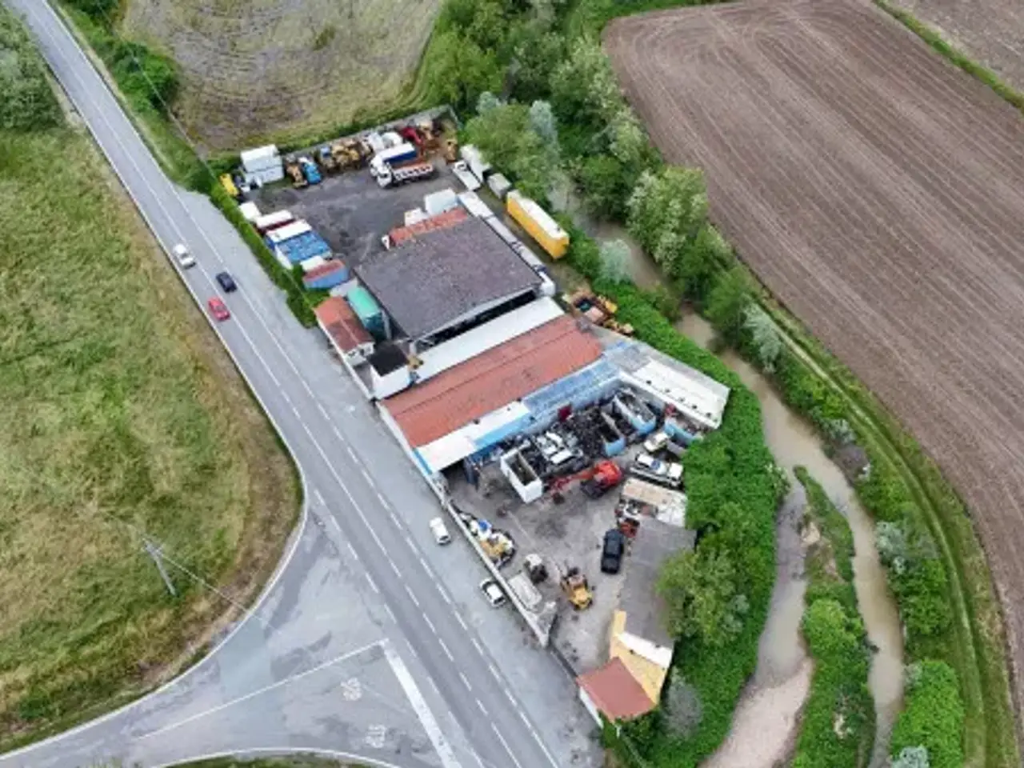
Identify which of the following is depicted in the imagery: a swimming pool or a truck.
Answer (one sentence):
Visible in the photo is a truck.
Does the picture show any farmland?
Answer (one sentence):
Yes, the picture does contain farmland.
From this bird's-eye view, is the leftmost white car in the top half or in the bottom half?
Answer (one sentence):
Seen from above, the leftmost white car lies in the top half of the view.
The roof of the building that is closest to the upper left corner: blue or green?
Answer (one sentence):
The roof of the building that is closest to the upper left corner is blue.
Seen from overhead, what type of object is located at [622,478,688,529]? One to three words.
shed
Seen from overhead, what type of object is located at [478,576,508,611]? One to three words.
car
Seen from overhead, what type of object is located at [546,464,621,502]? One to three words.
work vehicle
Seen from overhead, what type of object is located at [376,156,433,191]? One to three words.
truck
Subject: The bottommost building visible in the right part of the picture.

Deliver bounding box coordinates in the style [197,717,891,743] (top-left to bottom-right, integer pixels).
[576,609,674,725]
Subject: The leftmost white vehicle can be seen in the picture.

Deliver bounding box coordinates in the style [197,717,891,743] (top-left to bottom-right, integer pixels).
[172,246,195,270]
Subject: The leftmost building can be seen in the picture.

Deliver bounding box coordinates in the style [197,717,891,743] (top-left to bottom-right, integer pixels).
[276,233,328,277]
